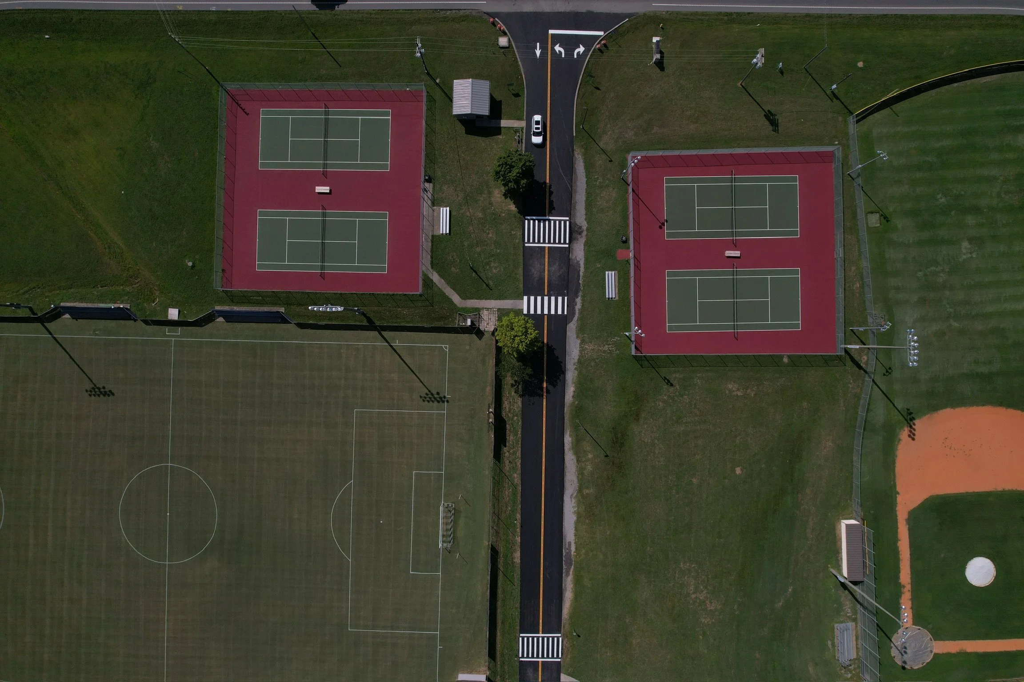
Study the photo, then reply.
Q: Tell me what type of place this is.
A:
sports ground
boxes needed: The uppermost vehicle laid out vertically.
[531,115,544,144]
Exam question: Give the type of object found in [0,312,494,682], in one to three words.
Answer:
soccer field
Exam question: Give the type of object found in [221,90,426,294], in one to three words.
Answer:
tennis court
